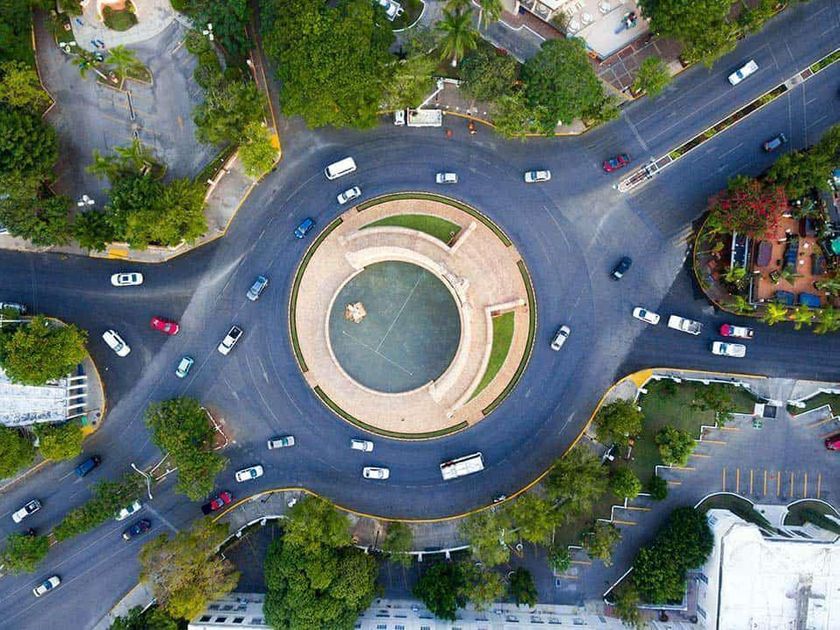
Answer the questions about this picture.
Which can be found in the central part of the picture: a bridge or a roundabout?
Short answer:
roundabout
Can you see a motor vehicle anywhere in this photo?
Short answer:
Yes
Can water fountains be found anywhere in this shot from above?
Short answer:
Yes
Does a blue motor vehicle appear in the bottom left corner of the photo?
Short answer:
Yes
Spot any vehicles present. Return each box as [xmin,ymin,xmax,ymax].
[121,517,153,541]
[336,185,362,204]
[74,454,103,477]
[32,573,63,597]
[111,272,144,286]
[393,77,458,126]
[436,171,457,185]
[609,256,632,281]
[149,316,180,335]
[362,466,389,481]
[632,307,662,325]
[100,329,132,357]
[550,323,569,352]
[710,341,747,357]
[666,315,705,337]
[114,499,143,523]
[439,453,485,480]
[350,438,374,452]
[11,497,44,523]
[246,275,269,301]
[267,434,295,449]
[726,58,760,85]
[218,324,244,355]
[719,323,756,339]
[176,355,194,378]
[760,133,787,153]
[523,169,550,183]
[234,463,265,482]
[201,490,233,514]
[325,157,357,179]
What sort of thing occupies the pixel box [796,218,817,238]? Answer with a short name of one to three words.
umbrella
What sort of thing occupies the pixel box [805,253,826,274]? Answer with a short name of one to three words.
umbrella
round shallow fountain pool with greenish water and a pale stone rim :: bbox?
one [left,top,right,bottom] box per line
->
[324,246,469,398]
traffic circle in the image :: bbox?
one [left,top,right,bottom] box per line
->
[210,113,616,519]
